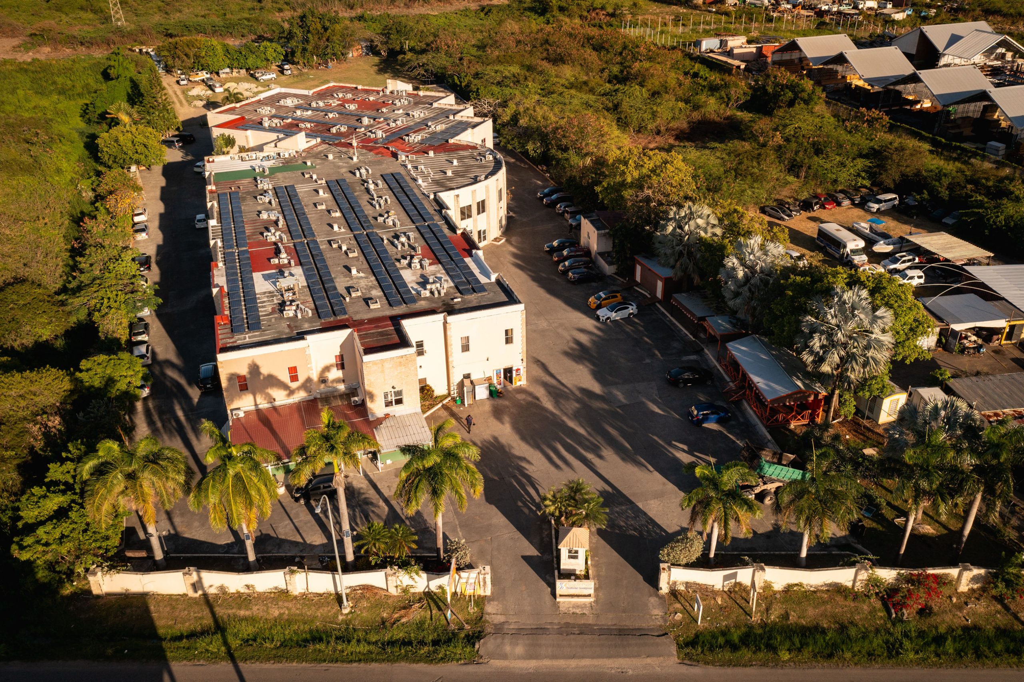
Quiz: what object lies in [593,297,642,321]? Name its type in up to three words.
car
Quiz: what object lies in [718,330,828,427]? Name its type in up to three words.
building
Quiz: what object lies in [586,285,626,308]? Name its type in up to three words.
car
